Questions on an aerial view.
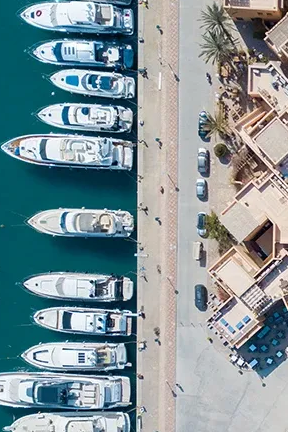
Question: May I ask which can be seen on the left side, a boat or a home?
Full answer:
What appears on the left side is a boat.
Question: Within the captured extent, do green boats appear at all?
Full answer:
No, the frame has no green boat in it.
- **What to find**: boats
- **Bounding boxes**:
[4,403,136,432]
[0,371,136,407]
[18,5,141,40]
[124,44,135,70]
[27,210,142,240]
[19,341,133,370]
[25,42,138,74]
[49,71,147,101]
[36,105,142,139]
[13,272,142,306]
[34,307,142,337]
[0,135,138,175]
